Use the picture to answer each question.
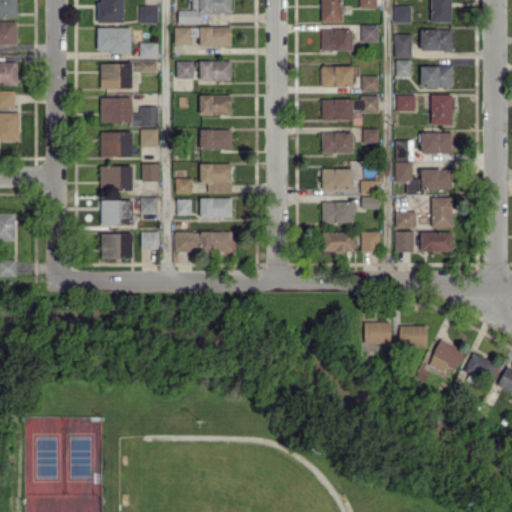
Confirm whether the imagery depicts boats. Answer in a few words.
No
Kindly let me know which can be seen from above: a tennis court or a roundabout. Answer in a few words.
tennis court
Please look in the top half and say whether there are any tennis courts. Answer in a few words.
No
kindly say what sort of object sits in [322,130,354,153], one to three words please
house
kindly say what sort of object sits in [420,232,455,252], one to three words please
house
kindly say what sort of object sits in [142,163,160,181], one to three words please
building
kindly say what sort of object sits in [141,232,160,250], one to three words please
building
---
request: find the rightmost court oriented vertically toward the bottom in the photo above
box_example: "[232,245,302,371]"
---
[65,418,102,494]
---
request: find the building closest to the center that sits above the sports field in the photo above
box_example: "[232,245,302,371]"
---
[200,232,234,254]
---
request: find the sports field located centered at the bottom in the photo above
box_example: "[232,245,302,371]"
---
[120,438,338,512]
